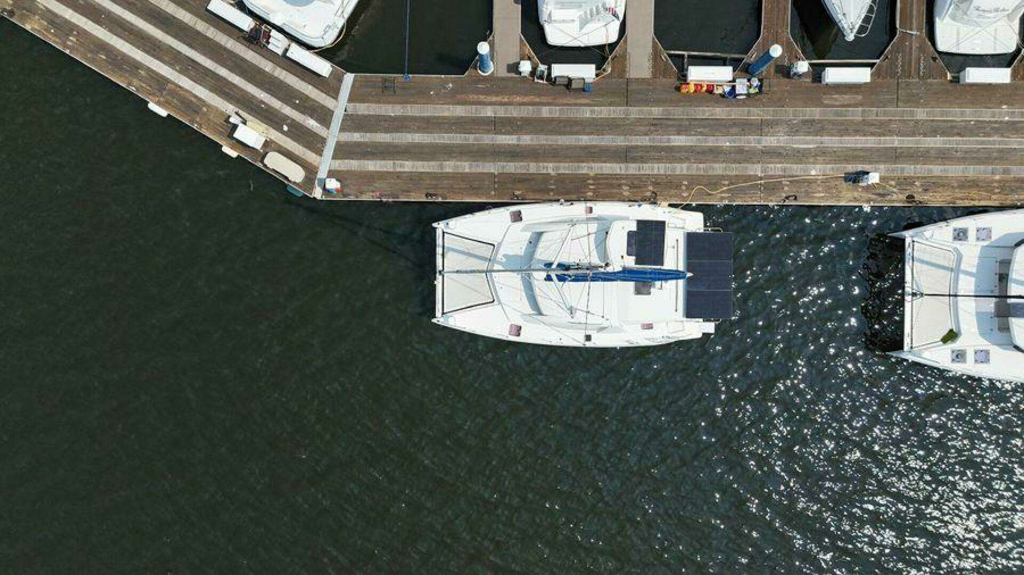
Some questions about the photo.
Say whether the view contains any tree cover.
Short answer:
No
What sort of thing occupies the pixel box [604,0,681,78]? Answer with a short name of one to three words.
pier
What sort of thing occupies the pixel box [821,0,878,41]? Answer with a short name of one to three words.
boat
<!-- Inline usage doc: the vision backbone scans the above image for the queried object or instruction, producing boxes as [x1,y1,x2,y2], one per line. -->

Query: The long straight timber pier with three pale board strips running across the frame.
[324,73,1024,207]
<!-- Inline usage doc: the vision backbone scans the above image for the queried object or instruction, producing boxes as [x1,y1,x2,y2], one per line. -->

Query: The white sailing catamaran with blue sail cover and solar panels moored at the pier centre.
[432,201,734,347]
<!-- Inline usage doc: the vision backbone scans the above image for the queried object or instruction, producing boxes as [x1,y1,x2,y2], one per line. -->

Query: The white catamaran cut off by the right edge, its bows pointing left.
[891,209,1024,381]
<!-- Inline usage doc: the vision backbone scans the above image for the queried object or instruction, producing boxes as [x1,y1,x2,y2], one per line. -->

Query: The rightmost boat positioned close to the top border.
[921,0,1021,55]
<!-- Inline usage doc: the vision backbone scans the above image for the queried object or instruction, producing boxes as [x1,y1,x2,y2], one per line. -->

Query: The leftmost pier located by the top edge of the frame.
[0,0,344,197]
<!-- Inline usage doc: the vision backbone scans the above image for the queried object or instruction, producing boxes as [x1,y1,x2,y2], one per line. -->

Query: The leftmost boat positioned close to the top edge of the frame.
[245,0,360,48]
